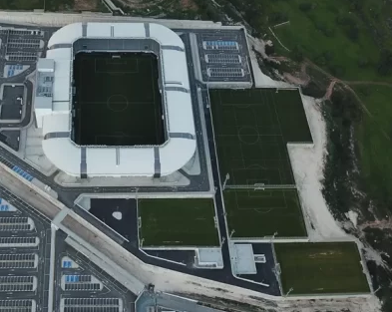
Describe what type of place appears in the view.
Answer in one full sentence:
The picture captures a sports ground.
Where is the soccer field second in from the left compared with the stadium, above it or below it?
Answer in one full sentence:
The soccer field second in from the left is located below the stadium in this view.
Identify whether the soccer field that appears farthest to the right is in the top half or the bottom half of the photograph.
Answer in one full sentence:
The soccer field that appears farthest to the right is in the bottom half of the image.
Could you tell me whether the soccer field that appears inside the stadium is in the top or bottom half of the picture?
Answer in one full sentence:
The soccer field that appears inside the stadium is in the top half of the image.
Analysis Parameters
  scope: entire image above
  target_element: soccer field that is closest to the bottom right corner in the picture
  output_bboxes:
[274,242,371,295]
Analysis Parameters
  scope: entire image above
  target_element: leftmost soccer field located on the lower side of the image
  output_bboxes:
[137,198,220,248]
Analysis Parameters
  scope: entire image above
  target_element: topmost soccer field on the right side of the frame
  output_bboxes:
[207,87,313,187]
